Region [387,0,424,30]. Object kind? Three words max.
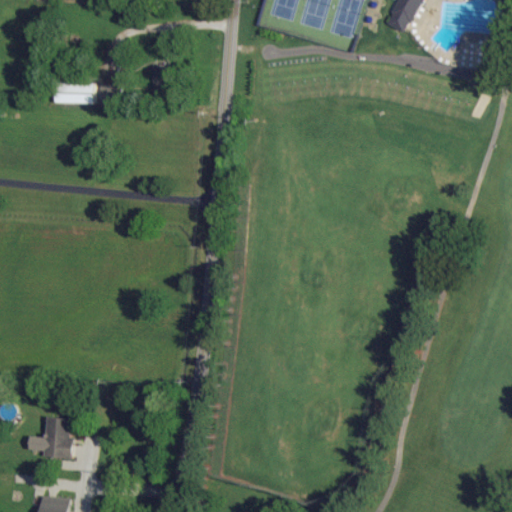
building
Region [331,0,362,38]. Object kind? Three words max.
tennis court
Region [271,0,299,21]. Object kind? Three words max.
tennis court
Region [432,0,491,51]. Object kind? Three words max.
swimming pool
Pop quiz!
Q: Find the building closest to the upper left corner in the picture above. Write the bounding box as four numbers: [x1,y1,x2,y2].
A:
[54,82,98,104]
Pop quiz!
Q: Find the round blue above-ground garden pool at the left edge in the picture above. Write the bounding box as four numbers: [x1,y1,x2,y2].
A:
[0,404,19,420]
